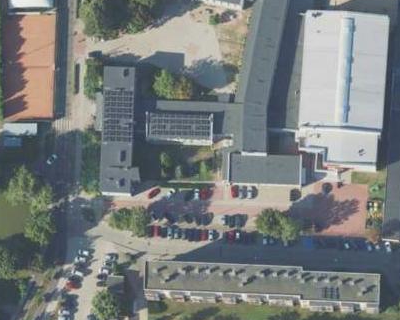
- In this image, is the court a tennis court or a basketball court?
tennis court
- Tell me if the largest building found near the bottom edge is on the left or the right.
right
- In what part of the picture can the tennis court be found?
top left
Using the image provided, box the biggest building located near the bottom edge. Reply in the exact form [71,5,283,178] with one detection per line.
[144,261,380,312]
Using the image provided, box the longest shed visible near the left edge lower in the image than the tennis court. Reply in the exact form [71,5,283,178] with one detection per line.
[2,123,37,137]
